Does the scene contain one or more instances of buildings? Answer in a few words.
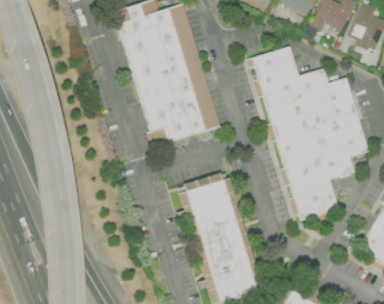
Yes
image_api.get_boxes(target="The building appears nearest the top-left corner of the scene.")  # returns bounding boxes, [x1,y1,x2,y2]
[119,0,220,142]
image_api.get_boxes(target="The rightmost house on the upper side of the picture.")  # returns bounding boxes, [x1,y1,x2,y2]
[348,4,384,50]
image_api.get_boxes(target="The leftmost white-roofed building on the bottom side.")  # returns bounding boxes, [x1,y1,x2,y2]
[180,174,258,304]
